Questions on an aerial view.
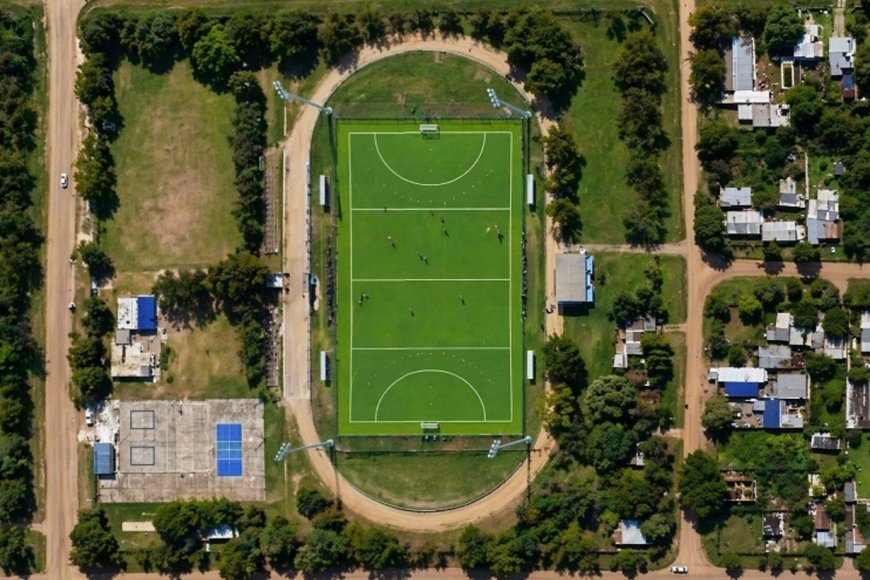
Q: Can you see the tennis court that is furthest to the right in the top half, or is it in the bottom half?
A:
bottom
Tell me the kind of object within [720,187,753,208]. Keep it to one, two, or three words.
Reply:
house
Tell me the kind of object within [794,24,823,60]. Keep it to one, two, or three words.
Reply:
house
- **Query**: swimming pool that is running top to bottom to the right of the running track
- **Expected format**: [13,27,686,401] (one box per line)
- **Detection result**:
[782,60,794,88]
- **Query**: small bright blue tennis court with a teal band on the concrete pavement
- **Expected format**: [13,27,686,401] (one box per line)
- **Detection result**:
[217,424,242,476]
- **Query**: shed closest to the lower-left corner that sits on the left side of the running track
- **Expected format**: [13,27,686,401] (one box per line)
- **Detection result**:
[94,442,119,475]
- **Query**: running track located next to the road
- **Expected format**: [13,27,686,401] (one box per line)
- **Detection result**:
[285,30,564,532]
